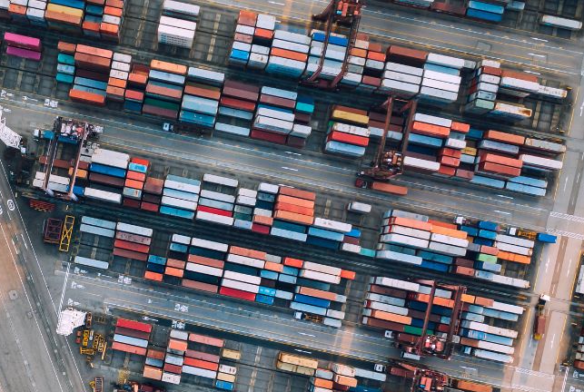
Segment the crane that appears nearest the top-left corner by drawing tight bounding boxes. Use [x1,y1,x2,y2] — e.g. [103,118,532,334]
[39,114,97,202]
